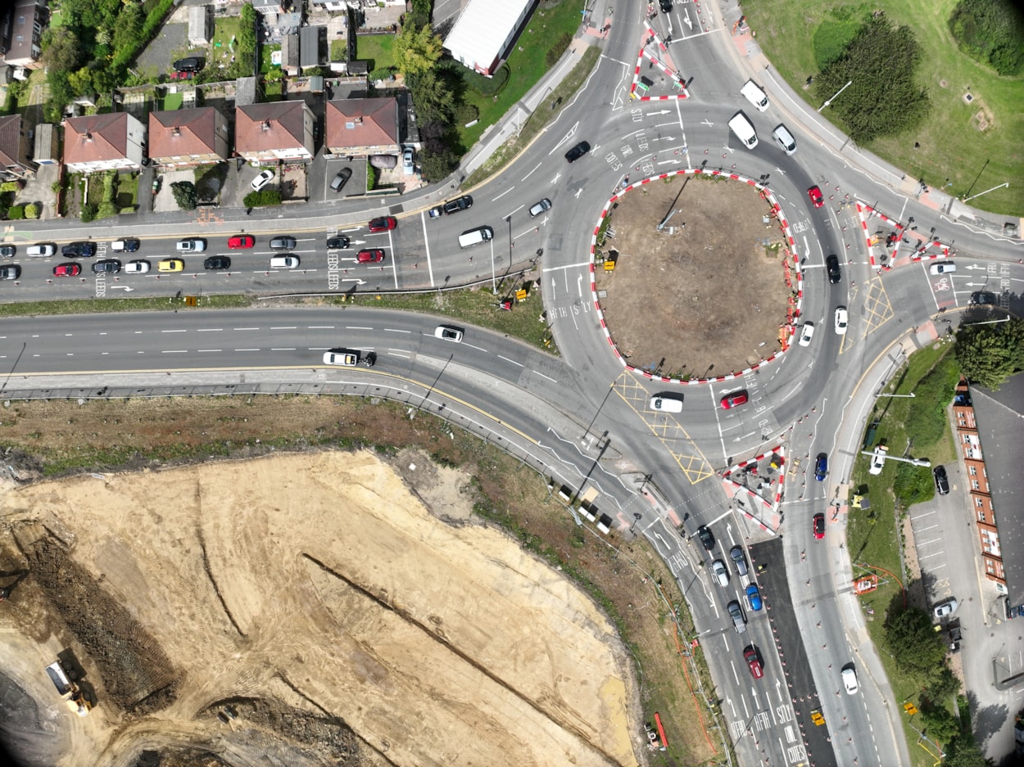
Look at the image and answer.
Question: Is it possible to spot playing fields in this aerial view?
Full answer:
No, the picture doesn't show any playing field.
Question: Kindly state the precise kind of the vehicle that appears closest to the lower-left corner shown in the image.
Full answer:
The vehicle that appears closest to the lower-left corner appears to be a truck.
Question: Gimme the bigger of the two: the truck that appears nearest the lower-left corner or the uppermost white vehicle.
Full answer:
Of the two, the truck is larger and the vehicle is the smaller one.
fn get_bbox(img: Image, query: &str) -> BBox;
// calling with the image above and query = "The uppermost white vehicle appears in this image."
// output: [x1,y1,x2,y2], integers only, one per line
[741,77,768,111]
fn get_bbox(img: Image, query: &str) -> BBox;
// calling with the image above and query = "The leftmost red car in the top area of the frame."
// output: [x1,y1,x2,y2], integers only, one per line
[54,263,81,277]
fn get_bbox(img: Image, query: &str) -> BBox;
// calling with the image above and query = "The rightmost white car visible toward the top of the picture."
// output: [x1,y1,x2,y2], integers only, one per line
[928,261,956,275]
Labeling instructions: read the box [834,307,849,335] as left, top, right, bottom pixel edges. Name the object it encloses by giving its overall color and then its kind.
white car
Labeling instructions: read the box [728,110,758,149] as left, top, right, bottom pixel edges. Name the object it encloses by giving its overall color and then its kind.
white van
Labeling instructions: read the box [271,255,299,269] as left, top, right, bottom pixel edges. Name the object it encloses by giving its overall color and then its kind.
white car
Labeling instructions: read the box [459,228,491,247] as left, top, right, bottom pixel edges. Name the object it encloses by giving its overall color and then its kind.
white vehicle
